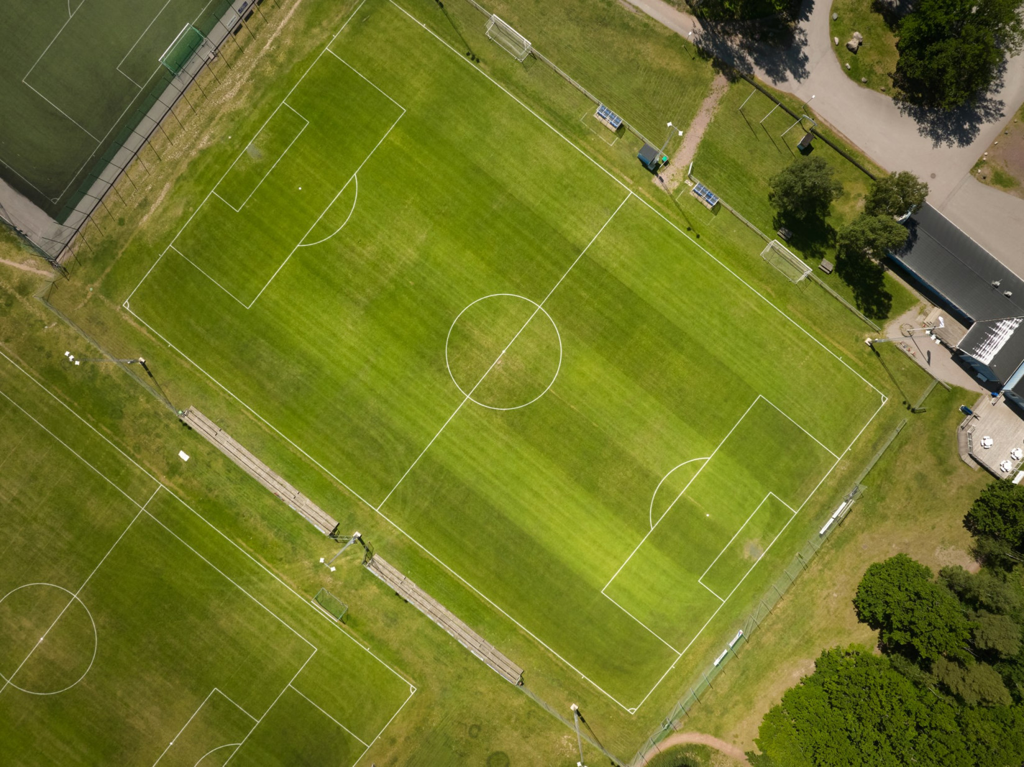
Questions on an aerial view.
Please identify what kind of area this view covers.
sports ground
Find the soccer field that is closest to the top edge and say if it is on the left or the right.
left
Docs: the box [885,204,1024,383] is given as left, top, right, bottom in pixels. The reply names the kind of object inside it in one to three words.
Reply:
building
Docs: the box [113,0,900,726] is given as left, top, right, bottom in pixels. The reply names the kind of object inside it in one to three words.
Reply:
soccer field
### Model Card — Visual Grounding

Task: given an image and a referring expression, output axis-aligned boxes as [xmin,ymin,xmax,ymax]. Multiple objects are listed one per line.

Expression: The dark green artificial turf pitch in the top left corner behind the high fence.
[0,0,234,224]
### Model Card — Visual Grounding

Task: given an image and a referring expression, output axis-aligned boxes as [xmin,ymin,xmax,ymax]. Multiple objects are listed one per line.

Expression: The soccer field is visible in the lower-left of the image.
[0,352,416,767]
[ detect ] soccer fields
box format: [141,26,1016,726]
[0,0,234,224]
[113,0,900,726]
[0,352,416,767]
